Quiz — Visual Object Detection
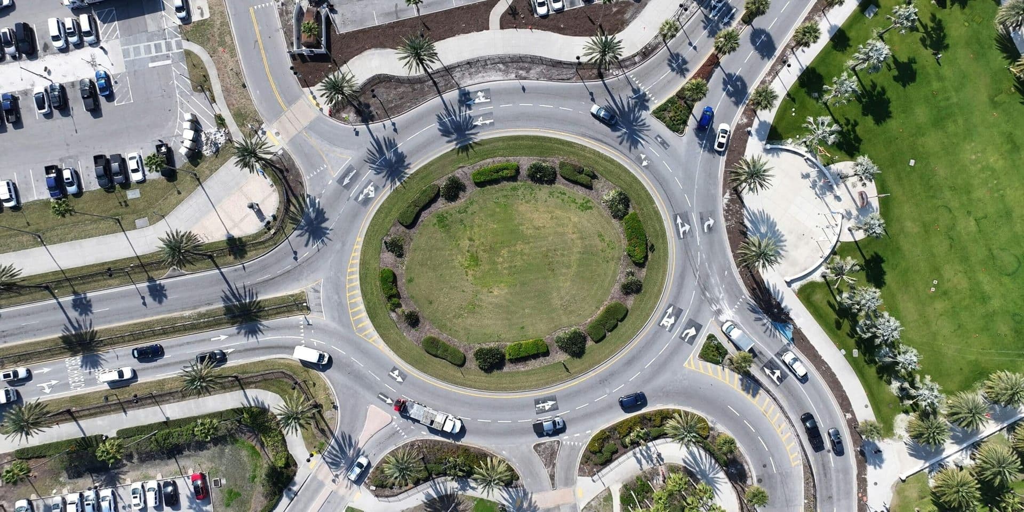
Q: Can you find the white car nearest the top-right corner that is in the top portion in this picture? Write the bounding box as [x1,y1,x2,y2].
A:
[713,122,730,153]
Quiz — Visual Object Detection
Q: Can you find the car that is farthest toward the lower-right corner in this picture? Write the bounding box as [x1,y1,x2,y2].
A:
[826,425,844,456]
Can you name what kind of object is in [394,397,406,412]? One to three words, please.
vehicle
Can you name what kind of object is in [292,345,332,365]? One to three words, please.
vehicle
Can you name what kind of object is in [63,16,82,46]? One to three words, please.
car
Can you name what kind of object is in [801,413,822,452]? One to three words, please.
truck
